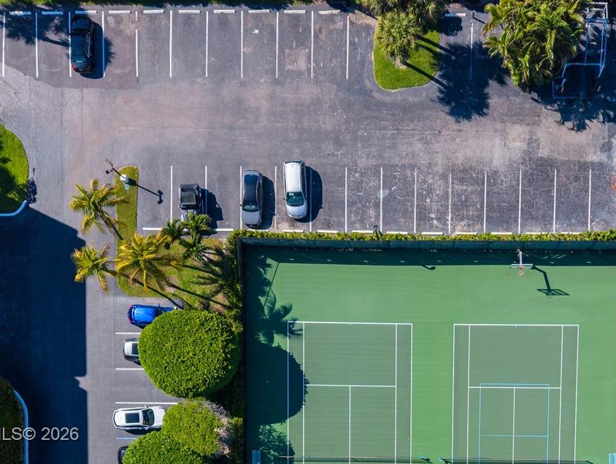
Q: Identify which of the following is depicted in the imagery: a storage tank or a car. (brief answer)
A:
car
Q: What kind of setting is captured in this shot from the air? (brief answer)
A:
sports ground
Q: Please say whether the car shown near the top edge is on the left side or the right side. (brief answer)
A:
left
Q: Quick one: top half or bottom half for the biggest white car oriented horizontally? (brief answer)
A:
bottom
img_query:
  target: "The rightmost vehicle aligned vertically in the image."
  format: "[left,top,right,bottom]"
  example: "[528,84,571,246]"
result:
[281,160,308,222]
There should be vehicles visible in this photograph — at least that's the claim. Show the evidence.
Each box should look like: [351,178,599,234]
[281,160,308,222]
[127,302,175,327]
[238,170,265,230]
[66,17,97,77]
[116,446,127,464]
[121,341,138,362]
[114,406,164,431]
[178,175,206,224]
